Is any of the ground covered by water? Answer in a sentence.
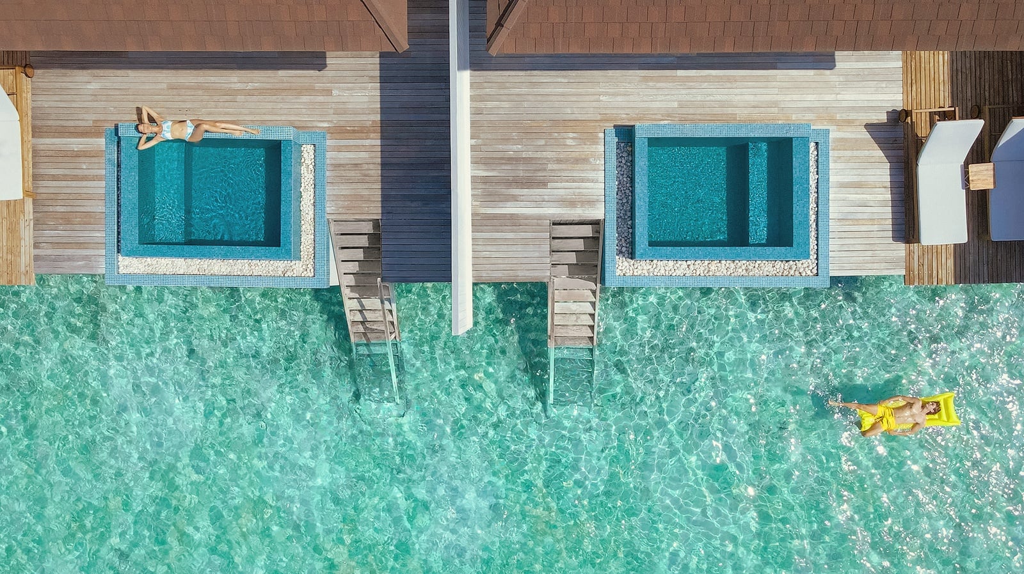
Yes, there is water in the image.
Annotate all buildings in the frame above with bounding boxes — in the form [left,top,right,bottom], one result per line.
[0,0,413,58]
[481,0,1024,57]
